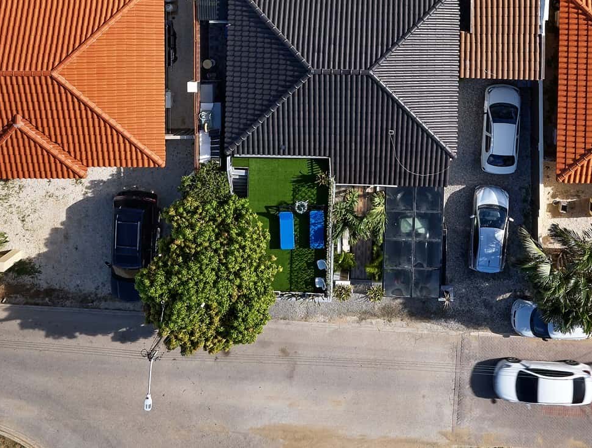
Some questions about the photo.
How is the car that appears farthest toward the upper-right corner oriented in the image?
vertically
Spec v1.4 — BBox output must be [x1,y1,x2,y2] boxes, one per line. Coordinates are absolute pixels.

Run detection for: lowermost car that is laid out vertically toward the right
[468,181,514,275]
